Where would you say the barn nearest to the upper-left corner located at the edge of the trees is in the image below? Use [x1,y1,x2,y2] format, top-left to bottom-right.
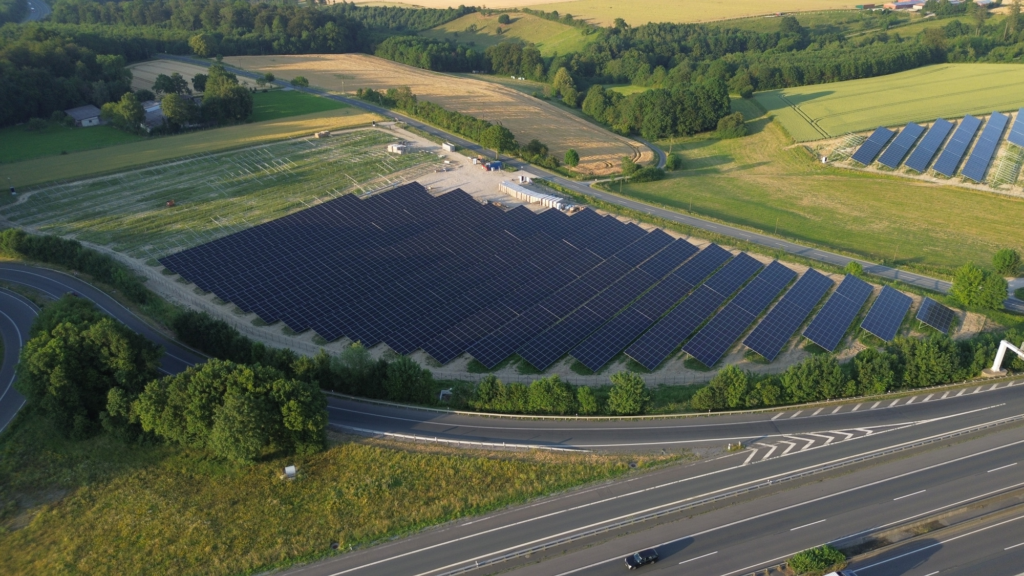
[63,107,105,128]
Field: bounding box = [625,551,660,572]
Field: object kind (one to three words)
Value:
car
